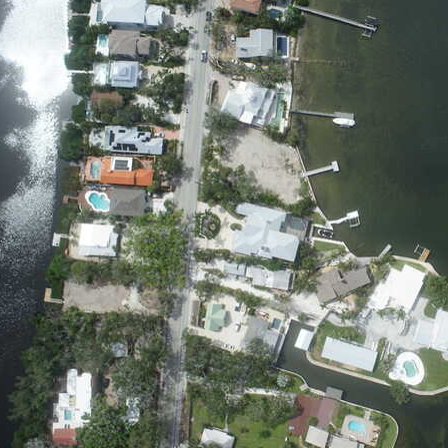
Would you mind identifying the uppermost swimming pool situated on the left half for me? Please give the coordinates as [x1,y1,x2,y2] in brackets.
[90,0,105,25]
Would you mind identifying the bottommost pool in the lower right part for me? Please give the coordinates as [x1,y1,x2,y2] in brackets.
[341,415,381,447]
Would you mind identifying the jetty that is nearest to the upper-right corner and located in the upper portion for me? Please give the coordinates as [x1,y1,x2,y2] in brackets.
[298,6,378,32]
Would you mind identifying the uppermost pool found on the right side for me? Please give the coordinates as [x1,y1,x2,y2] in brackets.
[265,6,287,21]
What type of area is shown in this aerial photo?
residential area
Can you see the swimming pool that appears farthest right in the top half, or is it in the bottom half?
bottom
